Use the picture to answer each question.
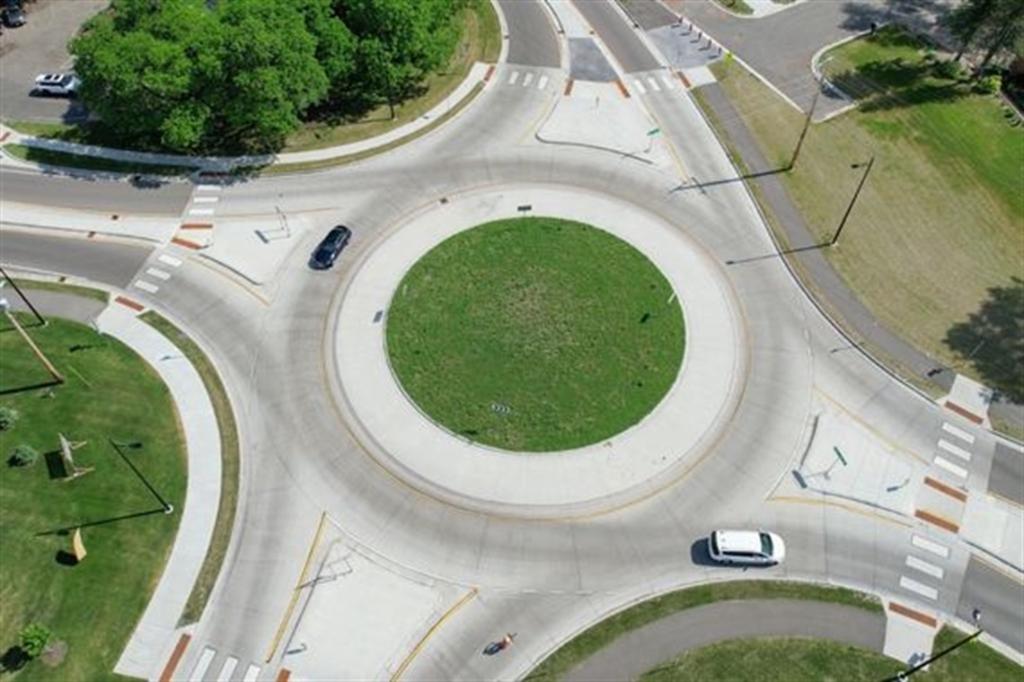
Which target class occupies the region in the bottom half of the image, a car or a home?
car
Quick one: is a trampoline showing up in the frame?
No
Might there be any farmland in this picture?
No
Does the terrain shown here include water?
No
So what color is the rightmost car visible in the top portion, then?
black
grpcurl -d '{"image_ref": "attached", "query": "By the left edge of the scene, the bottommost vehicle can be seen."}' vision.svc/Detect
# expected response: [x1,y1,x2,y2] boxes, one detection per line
[31,72,82,100]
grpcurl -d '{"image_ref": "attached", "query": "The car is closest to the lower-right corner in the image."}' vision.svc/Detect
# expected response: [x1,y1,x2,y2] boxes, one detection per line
[709,533,791,573]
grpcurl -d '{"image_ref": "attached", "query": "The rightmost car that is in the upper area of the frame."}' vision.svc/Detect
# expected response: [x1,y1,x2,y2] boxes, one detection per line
[309,225,351,270]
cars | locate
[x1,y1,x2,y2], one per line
[309,225,351,270]
[0,0,27,31]
[31,72,82,100]
[709,533,791,573]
